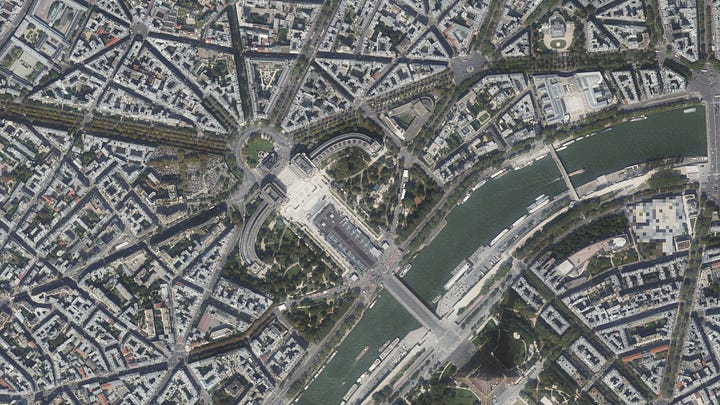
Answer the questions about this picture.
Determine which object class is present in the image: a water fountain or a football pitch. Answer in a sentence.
This aerial view contains a water fountain.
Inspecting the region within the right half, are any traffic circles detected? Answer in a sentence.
No, no traffic circle appears within the right half.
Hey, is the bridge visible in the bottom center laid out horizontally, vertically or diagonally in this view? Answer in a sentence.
Seen from above, the bridge visible in the bottom center lies diagonally.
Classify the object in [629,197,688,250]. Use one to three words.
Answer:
building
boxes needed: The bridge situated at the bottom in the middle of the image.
[380,270,445,334]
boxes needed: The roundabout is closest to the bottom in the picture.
[236,129,280,172]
